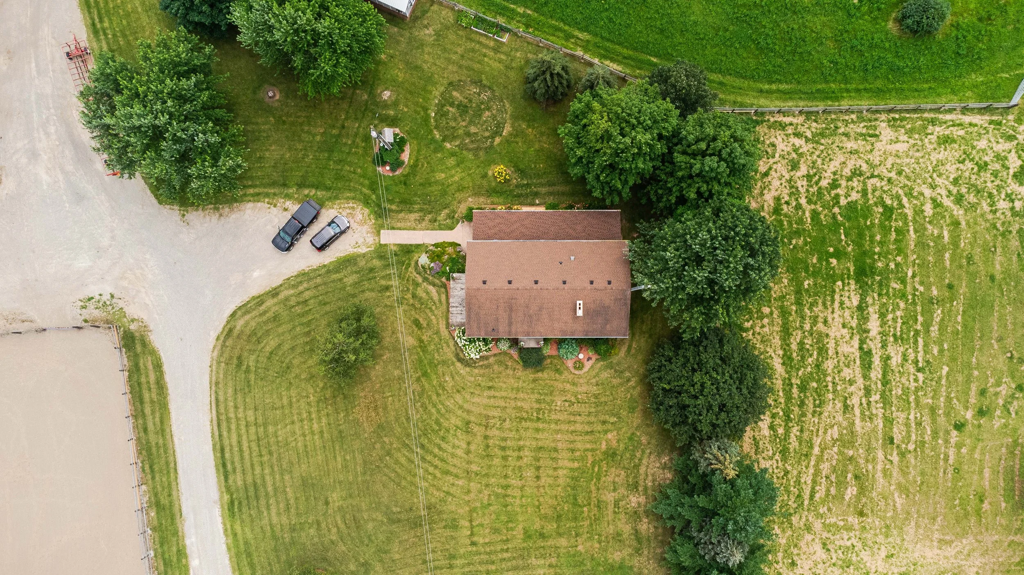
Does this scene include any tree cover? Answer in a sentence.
Yes, there is tree cover in the image.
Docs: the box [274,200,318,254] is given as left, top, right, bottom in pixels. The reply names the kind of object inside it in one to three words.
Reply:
truck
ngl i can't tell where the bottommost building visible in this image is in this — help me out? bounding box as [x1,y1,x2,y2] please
[465,210,632,338]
